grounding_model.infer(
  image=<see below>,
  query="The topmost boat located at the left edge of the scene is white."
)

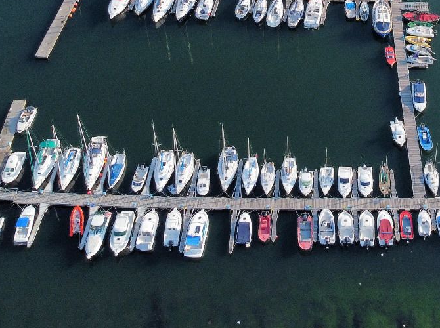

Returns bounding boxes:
[16,105,38,134]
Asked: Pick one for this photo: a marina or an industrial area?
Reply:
marina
